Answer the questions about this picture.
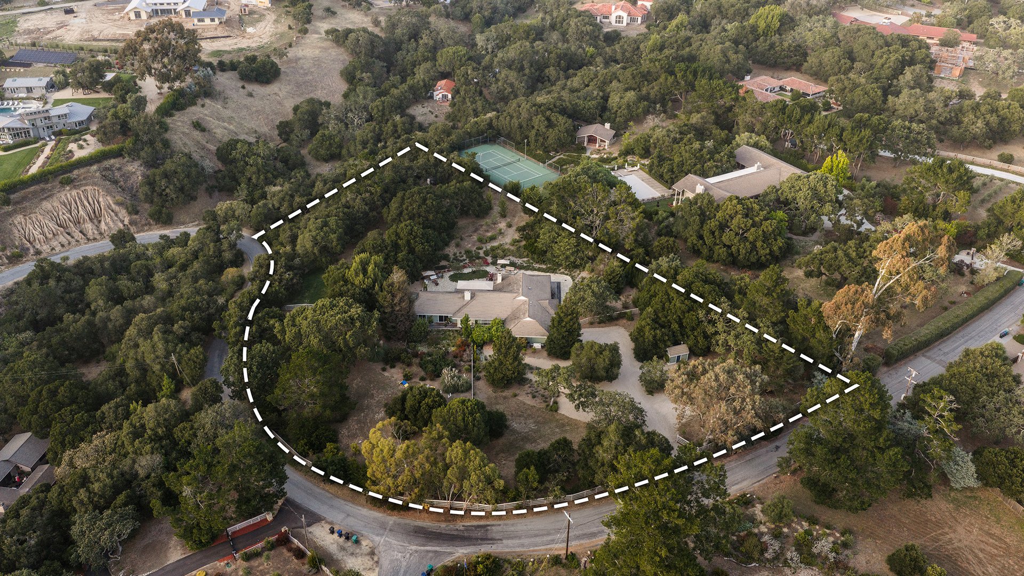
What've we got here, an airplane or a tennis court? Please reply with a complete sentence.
The image shows a tennis court.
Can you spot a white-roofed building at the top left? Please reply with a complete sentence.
Yes, a white-roofed building shows up at the top left.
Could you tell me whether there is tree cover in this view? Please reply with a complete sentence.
Yes, there is tree cover in the image.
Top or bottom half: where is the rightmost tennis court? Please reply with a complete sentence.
Seen from above, the rightmost tennis court lies in the top half of the view.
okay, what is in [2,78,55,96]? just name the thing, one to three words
building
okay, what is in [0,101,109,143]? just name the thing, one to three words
house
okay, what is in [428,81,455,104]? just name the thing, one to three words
house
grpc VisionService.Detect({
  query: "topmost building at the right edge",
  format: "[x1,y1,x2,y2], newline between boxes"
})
[815,9,997,42]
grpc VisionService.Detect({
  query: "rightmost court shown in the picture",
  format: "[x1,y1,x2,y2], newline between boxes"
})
[443,140,556,196]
